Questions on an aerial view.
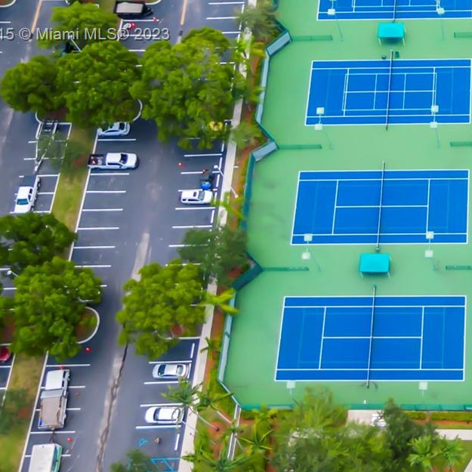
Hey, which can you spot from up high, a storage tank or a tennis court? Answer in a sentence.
It is a tennis court that can be seen here.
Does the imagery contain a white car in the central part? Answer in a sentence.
Yes, looking in the central part, one can make out a white car.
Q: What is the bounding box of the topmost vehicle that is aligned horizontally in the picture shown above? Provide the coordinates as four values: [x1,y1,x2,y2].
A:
[112,1,153,18]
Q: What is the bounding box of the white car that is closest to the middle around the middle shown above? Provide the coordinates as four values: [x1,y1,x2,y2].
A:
[178,189,214,205]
